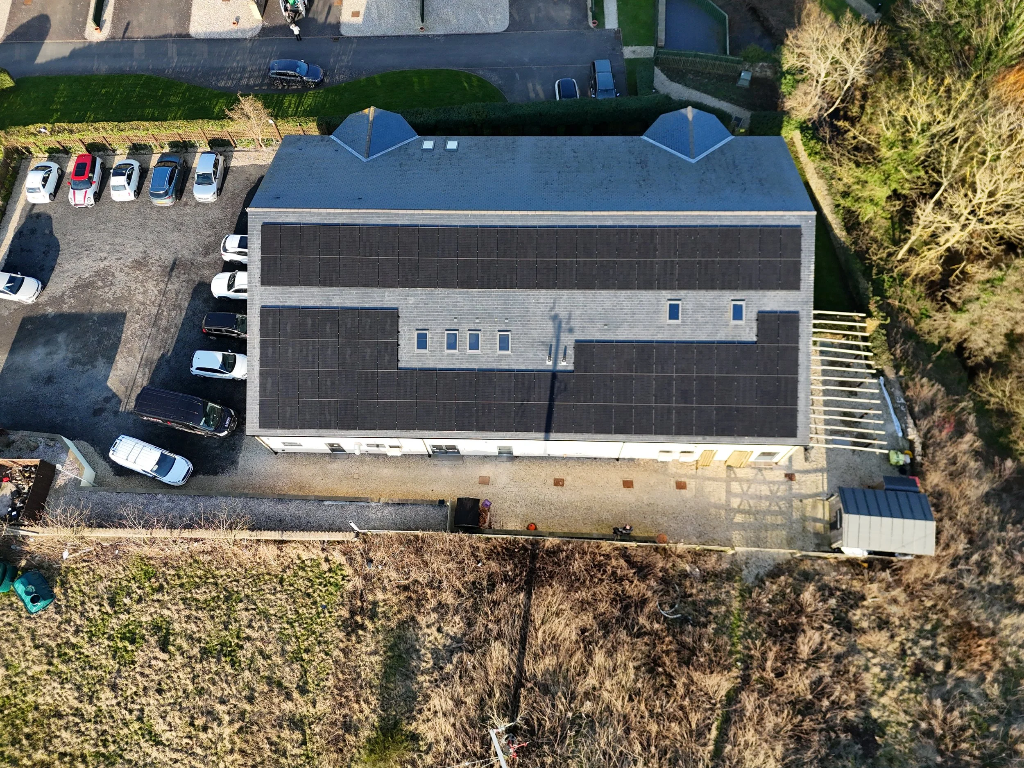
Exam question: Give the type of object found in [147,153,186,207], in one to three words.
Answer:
car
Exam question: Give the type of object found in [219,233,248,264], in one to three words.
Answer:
car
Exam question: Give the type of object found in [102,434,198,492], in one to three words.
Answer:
van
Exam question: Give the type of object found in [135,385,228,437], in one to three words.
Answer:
van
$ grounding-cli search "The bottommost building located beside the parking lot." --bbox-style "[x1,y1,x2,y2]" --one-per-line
[0,457,61,522]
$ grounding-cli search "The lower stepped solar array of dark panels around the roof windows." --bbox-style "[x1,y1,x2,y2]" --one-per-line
[258,309,801,436]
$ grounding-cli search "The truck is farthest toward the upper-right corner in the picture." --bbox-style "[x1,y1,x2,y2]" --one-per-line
[589,65,617,96]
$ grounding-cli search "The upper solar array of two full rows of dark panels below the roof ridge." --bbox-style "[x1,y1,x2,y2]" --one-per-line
[259,225,803,289]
